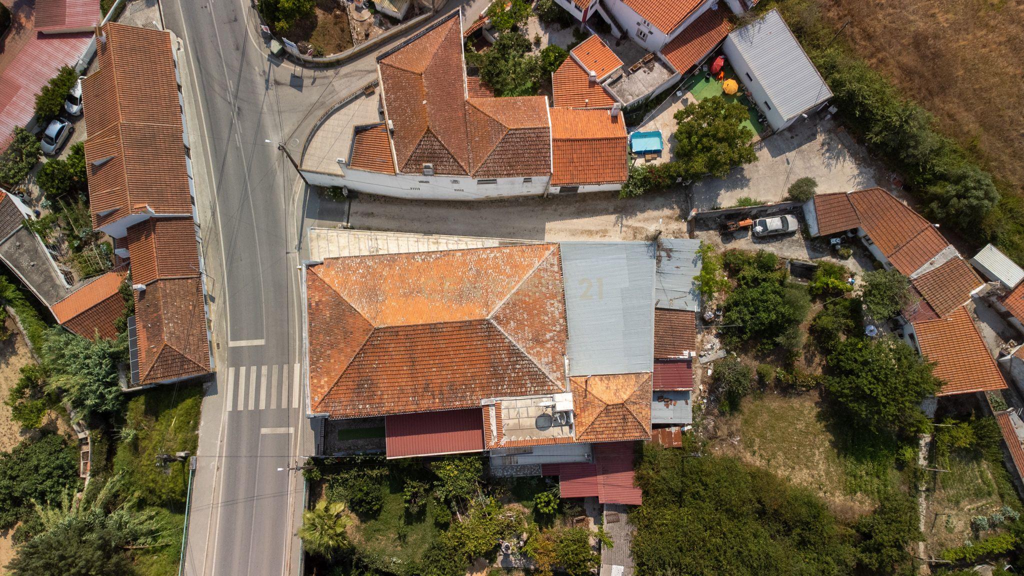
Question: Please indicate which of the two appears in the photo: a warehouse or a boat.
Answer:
warehouse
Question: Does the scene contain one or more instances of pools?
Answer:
Yes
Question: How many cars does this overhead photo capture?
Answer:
3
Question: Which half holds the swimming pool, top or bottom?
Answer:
top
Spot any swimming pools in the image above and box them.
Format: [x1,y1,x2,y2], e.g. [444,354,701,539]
[629,130,664,157]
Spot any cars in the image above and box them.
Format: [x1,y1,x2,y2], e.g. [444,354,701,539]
[39,117,78,157]
[64,76,84,118]
[750,213,799,239]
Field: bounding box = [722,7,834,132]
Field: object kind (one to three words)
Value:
warehouse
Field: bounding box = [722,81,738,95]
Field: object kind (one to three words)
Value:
umbrella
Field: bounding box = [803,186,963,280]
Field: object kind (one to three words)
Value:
house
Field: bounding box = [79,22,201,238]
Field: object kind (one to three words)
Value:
house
